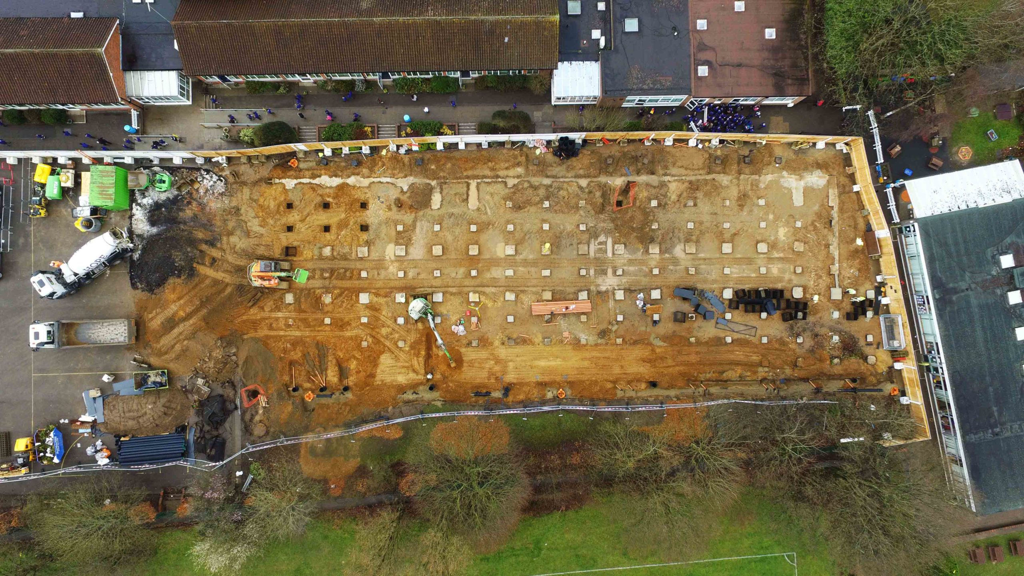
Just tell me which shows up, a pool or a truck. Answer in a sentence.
There is a truck in the scene.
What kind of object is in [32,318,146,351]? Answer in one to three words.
truck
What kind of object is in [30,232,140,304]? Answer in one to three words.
truck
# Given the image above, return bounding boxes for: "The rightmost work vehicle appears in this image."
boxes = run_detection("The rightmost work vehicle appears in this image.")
[411,290,456,368]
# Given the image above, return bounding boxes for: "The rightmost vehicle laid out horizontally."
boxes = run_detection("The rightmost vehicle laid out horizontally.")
[243,261,310,288]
